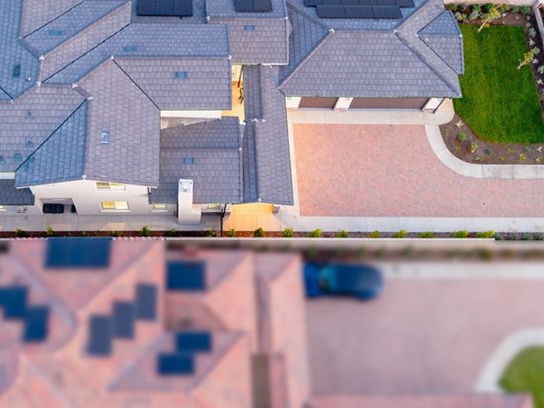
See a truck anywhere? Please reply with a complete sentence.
No, there isn't any truck down there.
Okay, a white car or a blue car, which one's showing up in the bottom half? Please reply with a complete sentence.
You can see a blue car in the bottom half.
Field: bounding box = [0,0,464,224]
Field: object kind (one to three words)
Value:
house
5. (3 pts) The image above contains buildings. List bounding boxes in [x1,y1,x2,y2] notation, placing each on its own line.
[0,236,533,408]
[0,0,464,224]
